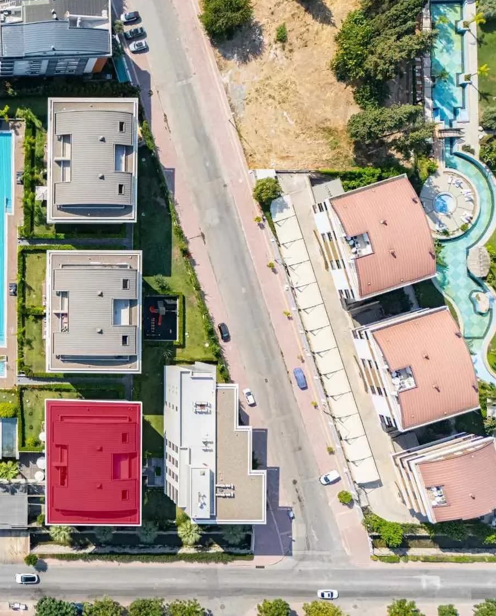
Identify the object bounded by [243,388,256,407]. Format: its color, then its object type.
white vehicle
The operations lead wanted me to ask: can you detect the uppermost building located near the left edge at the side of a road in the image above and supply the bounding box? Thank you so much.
[0,0,111,78]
